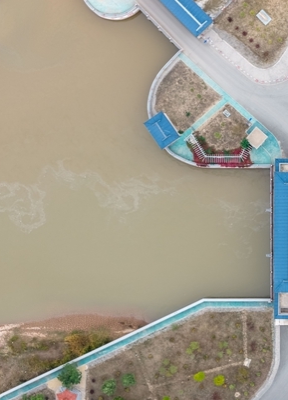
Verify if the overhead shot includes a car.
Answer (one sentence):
No, there appears to be no car in this shot.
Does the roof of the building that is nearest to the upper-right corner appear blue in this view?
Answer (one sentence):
Yes, the roof of the building that is nearest to the upper-right corner is blue.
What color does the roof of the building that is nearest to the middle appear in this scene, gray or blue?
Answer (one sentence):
The roof of the building that is nearest to the middle is blue.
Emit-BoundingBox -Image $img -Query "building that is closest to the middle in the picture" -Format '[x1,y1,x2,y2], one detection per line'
[144,111,183,149]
